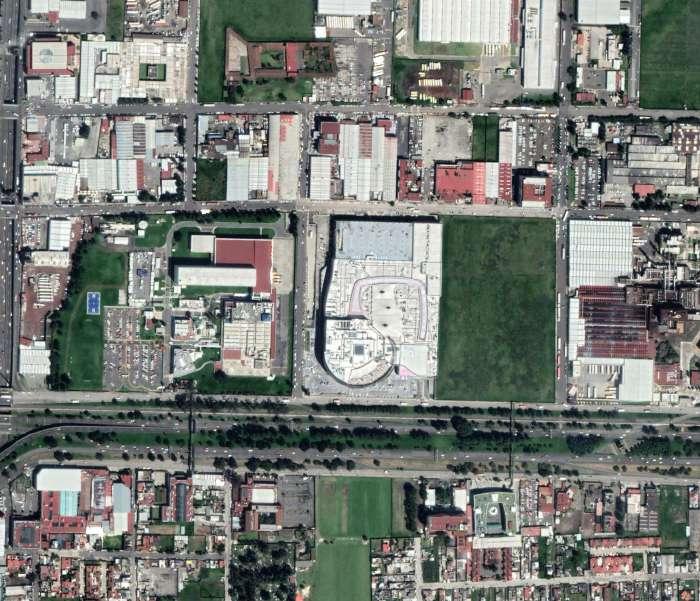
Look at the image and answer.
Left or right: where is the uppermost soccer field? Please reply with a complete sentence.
The uppermost soccer field appears in the left half of the scene.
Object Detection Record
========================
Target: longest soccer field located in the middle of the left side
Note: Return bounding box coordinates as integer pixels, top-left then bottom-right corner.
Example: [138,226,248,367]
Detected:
[49,233,128,390]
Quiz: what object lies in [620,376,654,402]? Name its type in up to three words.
building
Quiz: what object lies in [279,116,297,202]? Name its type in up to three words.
building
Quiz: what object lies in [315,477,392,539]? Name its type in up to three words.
soccer field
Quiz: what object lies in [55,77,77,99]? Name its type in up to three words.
shed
